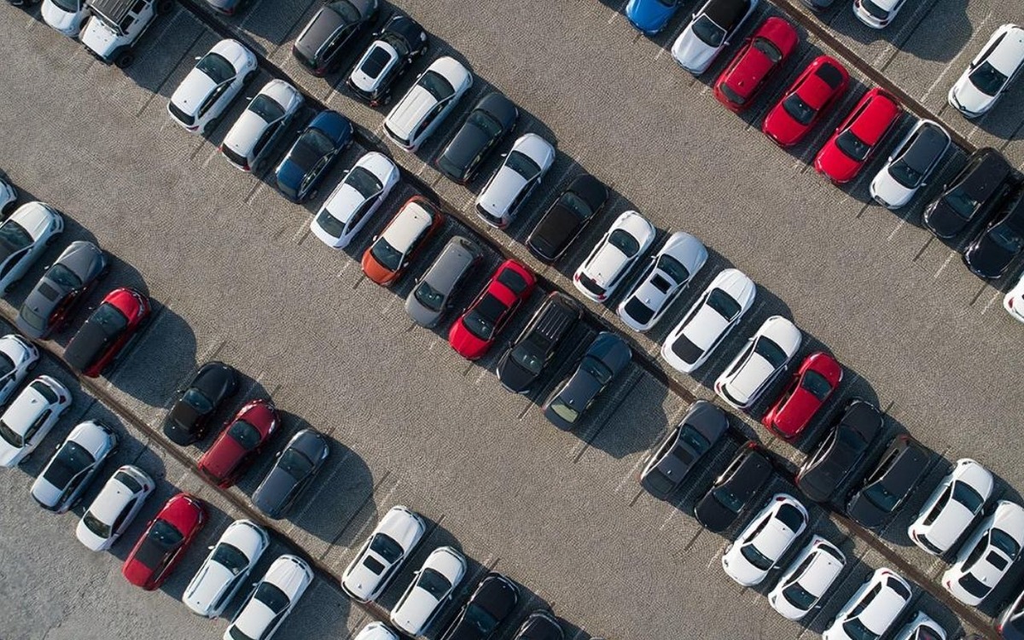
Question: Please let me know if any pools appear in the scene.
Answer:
No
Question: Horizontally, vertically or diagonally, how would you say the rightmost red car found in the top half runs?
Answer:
diagonally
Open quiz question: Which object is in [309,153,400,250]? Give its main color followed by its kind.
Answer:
white car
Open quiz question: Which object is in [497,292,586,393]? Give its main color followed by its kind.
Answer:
black car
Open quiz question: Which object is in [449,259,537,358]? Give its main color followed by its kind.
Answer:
red car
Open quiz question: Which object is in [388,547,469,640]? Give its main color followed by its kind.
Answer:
white car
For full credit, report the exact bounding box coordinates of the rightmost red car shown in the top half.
[814,86,905,184]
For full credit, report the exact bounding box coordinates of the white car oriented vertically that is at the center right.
[1001,266,1024,321]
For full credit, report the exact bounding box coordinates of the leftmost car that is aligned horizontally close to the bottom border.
[349,620,396,640]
